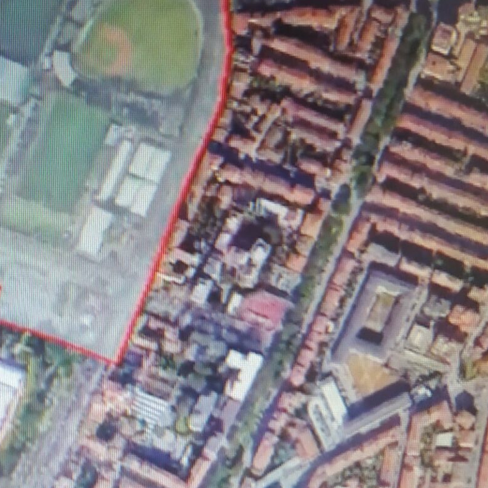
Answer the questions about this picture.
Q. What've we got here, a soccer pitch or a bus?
soccer pitch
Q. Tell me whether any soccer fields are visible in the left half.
Yes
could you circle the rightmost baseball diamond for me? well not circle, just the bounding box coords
[76,0,201,93]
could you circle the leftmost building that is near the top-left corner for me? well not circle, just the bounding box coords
[51,50,77,85]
